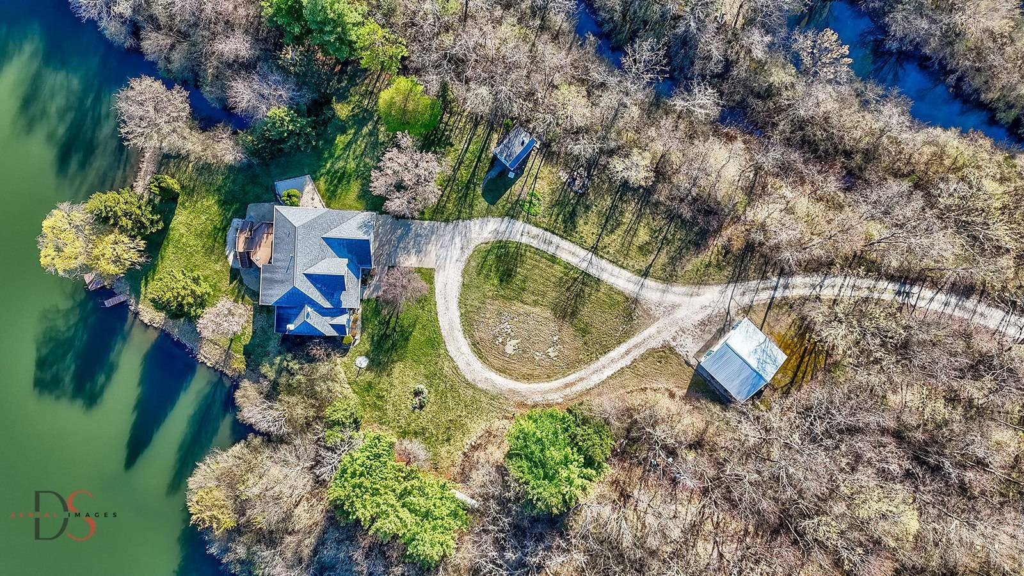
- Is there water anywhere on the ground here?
Yes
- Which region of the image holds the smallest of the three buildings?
top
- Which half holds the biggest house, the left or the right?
left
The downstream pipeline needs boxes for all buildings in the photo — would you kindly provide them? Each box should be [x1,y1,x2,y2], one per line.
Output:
[697,317,788,404]
[259,206,378,336]
[493,125,538,171]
